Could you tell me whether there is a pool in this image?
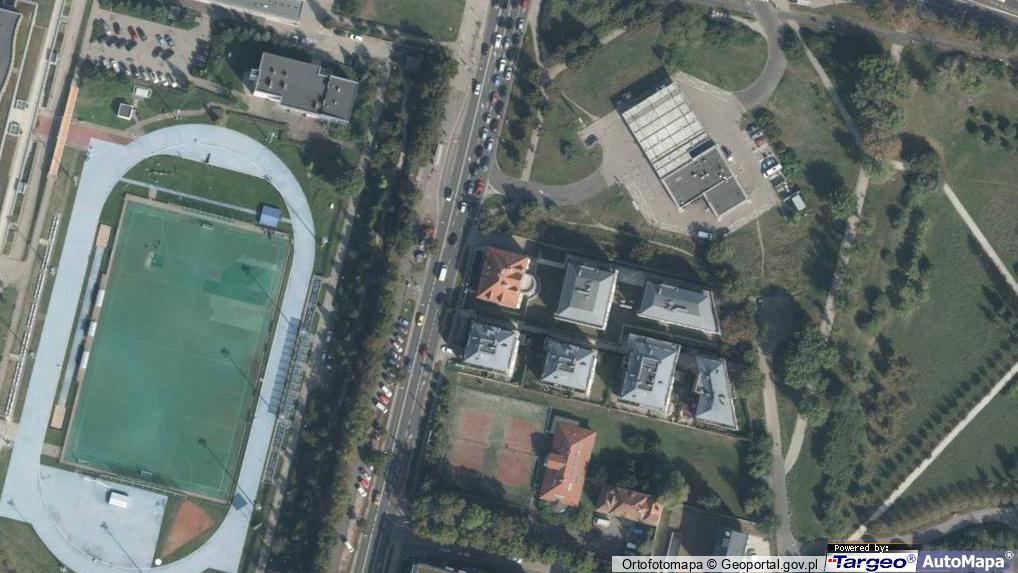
No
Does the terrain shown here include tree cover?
Yes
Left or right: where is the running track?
left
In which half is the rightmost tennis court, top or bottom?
bottom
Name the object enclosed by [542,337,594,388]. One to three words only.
house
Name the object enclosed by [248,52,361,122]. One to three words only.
building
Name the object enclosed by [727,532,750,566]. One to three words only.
shed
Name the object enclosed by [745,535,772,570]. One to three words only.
building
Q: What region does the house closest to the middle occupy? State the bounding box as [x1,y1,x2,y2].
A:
[477,248,549,310]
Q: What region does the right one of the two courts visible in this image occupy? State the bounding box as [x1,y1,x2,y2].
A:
[497,418,537,483]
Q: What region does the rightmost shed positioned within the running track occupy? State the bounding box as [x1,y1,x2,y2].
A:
[260,206,281,228]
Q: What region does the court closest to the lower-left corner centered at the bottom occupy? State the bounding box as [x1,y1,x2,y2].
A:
[451,410,491,470]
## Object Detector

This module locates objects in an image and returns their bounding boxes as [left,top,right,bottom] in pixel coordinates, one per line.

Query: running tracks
[0,123,315,573]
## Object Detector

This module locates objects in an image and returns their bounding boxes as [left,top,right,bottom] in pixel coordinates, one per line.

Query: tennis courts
[451,410,491,470]
[497,418,537,483]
